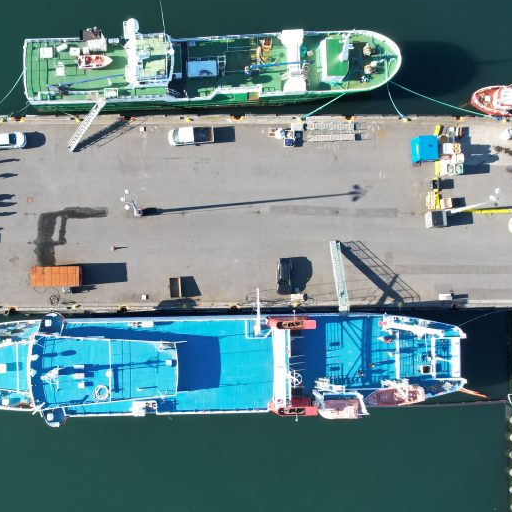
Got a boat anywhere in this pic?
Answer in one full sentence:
Yes, a boat can be made out from above.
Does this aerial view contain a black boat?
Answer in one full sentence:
No, there's no black boat here.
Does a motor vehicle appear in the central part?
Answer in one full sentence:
Yes, a motor vehicle can be seen in the central part.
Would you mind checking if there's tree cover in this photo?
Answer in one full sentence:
No, the picture contains no tree cover.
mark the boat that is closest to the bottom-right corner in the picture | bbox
[367,384,430,409]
